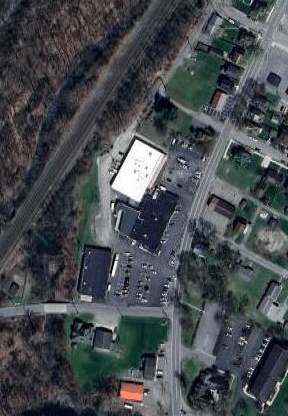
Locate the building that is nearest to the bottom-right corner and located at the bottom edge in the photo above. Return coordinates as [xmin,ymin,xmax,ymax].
[245,341,288,400]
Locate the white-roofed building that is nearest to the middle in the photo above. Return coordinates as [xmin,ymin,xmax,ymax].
[112,139,168,202]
